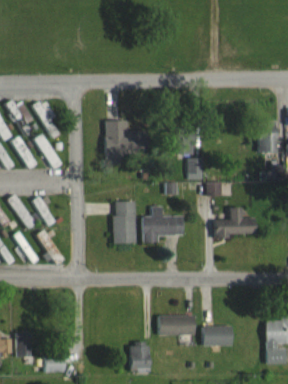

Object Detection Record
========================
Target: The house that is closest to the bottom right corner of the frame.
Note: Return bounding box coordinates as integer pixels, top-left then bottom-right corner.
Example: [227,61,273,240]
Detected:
[266,320,288,364]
